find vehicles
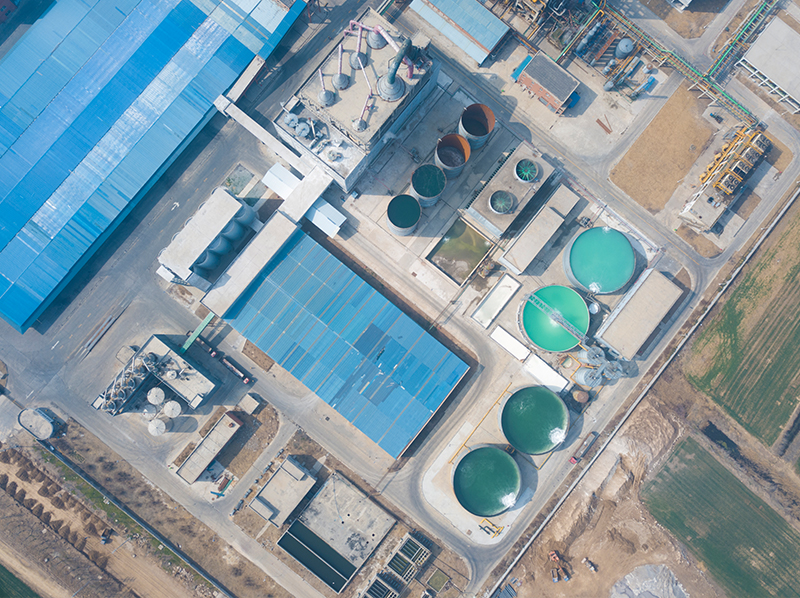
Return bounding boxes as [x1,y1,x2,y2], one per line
[558,566,572,585]
[97,530,111,546]
[184,331,217,359]
[549,550,566,578]
[219,356,249,385]
[581,557,598,575]
[570,433,598,467]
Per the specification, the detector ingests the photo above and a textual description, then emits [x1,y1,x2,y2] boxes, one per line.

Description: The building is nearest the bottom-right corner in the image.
[595,270,684,361]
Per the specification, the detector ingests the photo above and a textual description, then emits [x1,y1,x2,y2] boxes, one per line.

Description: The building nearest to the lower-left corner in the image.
[17,407,60,441]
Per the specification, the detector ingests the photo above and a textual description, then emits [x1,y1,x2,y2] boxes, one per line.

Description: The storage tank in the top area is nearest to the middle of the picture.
[387,194,421,235]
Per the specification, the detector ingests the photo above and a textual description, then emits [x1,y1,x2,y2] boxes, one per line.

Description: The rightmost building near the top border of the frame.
[726,16,800,124]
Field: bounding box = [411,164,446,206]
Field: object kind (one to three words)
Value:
storage tank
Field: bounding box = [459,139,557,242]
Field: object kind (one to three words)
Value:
cooling tower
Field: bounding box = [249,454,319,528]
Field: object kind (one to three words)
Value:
building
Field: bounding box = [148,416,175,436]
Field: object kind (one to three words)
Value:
silo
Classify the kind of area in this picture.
industrial area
